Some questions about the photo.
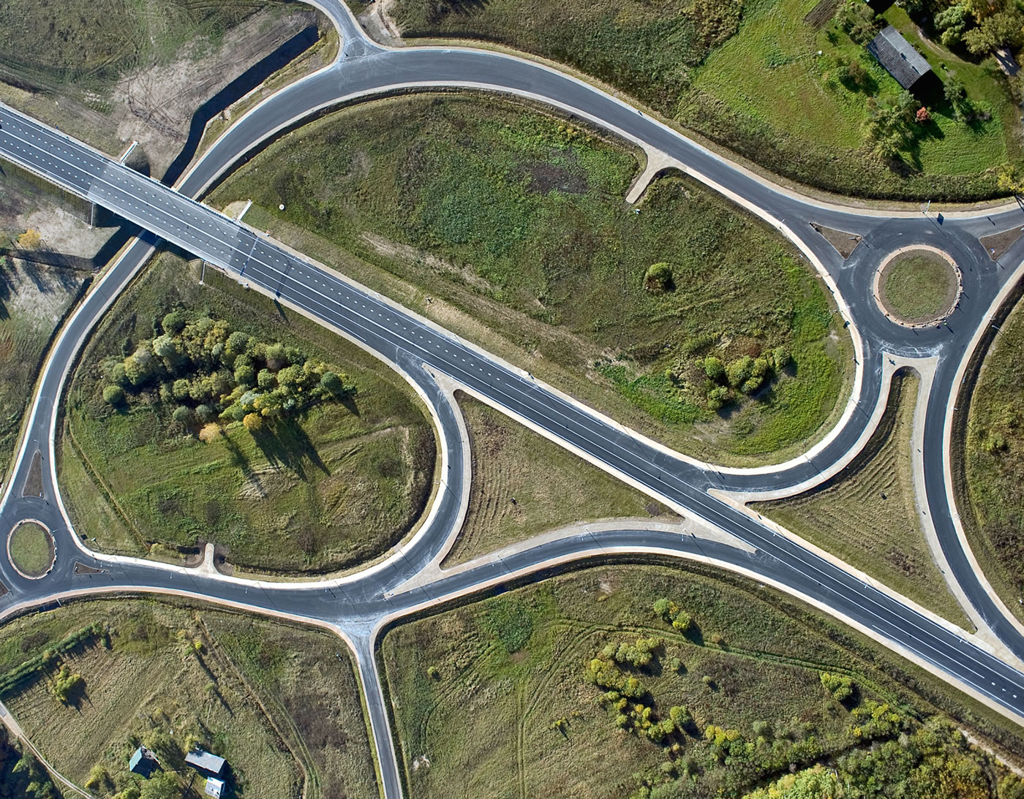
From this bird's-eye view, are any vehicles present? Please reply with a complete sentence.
No, I can see no vehicle in this picture.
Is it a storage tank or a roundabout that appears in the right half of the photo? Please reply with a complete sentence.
The feature located in the right half of the photo is a roundabout.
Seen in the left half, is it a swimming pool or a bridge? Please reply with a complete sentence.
Visible in the left half is a bridge.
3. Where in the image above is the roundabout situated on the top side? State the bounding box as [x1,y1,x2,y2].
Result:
[873,245,965,327]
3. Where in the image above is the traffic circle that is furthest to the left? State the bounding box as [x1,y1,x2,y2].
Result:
[6,519,57,581]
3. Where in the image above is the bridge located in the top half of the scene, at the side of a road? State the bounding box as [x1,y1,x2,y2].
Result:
[87,163,250,274]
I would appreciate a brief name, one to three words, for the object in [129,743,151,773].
house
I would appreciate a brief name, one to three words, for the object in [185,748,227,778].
shed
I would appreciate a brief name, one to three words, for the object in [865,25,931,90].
barn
